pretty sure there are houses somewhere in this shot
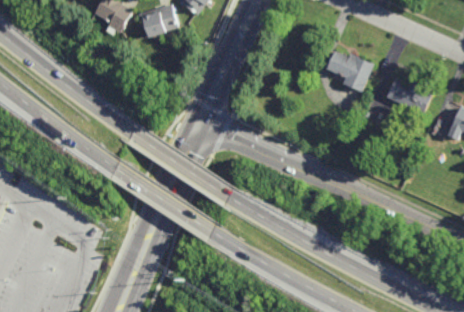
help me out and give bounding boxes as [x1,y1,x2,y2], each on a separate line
[444,96,464,142]
[94,0,140,36]
[325,51,374,92]
[390,81,434,113]
[178,0,214,16]
[143,4,181,38]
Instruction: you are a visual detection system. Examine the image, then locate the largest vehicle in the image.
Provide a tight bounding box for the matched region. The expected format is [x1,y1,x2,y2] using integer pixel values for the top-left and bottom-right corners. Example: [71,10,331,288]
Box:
[34,116,70,145]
